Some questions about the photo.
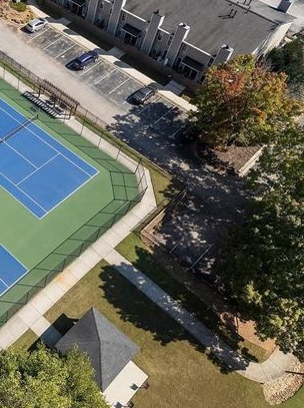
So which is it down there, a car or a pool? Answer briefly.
car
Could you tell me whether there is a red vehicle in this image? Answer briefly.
No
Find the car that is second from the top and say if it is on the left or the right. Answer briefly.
left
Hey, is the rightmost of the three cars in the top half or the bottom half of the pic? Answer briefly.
top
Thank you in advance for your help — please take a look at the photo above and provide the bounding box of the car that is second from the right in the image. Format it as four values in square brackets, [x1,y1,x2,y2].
[70,49,97,69]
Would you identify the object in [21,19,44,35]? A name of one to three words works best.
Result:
car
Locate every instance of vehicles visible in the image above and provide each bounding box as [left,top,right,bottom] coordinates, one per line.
[128,86,156,107]
[70,49,97,69]
[21,19,44,35]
